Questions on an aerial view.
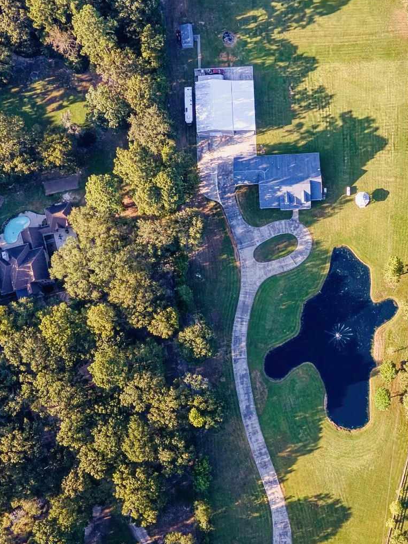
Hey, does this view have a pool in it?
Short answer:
Yes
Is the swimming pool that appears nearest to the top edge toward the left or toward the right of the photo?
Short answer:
left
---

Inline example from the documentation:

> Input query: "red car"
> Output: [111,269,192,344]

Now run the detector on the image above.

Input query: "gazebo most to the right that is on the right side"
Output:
[354,192,370,208]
